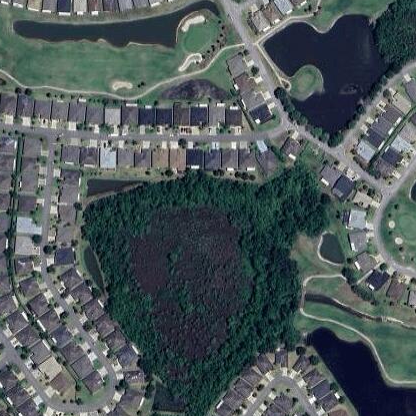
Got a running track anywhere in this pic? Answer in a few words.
No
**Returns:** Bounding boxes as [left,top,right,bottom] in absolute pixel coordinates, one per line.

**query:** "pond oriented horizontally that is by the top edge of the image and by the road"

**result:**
[13,0,220,48]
